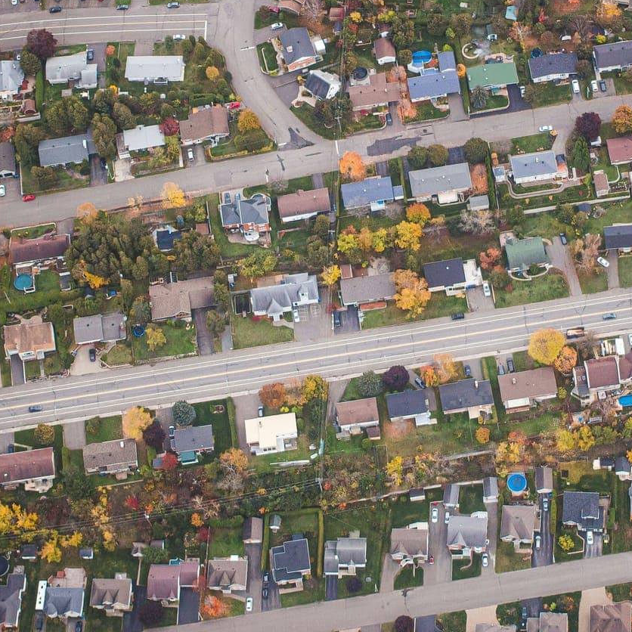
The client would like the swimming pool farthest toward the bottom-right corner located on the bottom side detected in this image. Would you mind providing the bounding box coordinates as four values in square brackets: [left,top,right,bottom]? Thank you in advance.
[508,474,527,493]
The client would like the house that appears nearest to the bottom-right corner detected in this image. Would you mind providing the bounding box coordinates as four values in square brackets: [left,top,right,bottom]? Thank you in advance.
[588,600,631,632]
